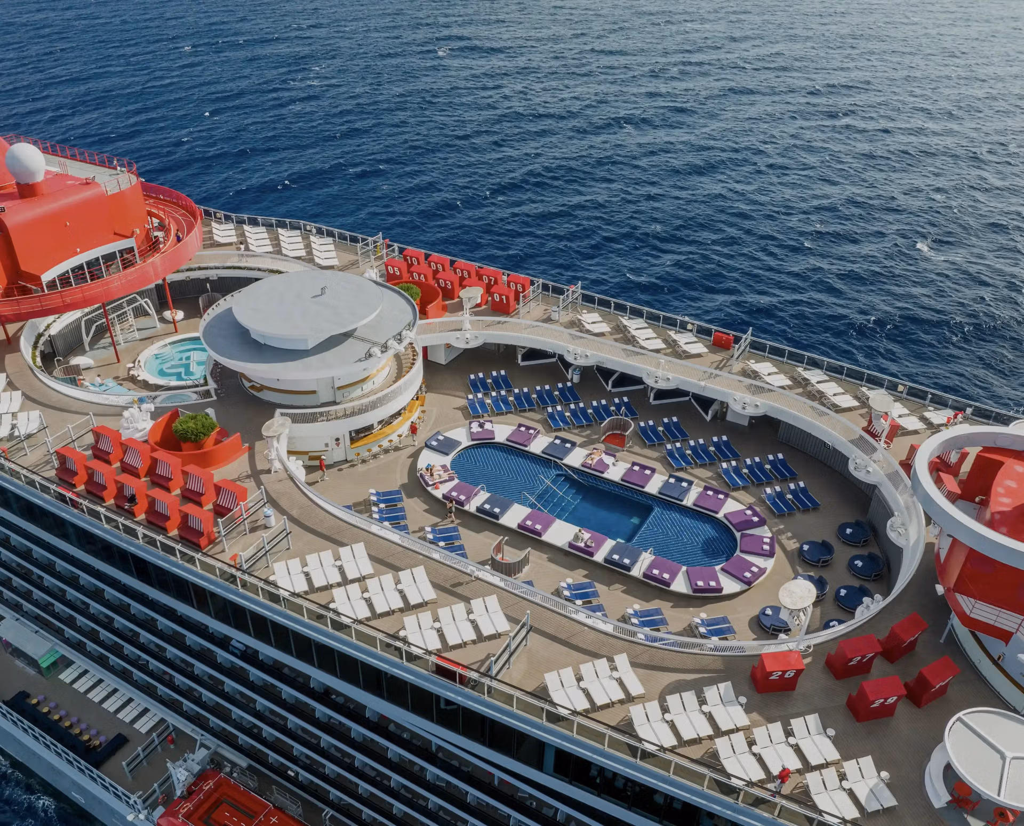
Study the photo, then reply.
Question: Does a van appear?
No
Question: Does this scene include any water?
Yes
